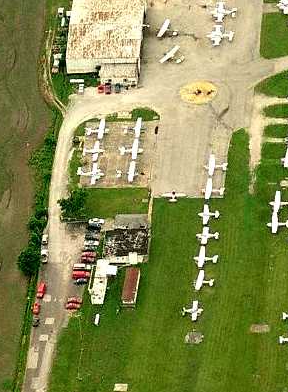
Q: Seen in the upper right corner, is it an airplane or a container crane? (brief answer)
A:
airplane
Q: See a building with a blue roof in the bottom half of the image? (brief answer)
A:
No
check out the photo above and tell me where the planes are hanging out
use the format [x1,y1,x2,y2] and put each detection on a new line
[156,20,177,37]
[266,212,288,234]
[194,247,216,268]
[120,139,144,159]
[180,301,202,320]
[118,161,140,182]
[269,191,288,212]
[159,45,184,63]
[281,151,288,168]
[80,140,105,160]
[78,163,103,183]
[157,189,187,206]
[198,204,219,225]
[197,227,217,244]
[88,119,110,139]
[279,337,288,344]
[209,24,234,45]
[203,155,226,175]
[211,1,237,21]
[125,118,147,138]
[201,178,224,199]
[193,270,214,291]
[278,0,288,12]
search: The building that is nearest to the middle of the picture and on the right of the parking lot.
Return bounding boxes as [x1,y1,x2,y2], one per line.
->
[102,214,151,266]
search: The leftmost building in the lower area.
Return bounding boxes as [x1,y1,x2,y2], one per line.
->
[86,257,123,312]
